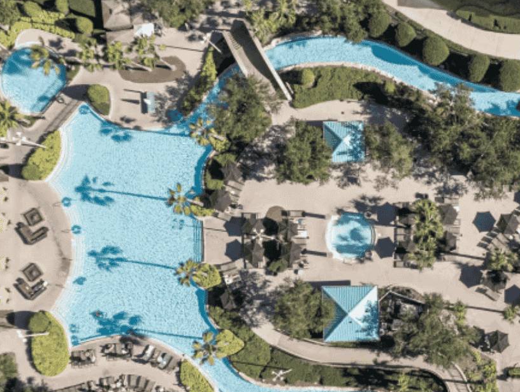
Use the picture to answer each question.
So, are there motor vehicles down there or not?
No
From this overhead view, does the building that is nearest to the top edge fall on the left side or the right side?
left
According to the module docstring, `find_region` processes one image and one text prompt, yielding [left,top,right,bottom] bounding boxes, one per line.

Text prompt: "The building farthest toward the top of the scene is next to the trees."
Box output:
[102,0,143,29]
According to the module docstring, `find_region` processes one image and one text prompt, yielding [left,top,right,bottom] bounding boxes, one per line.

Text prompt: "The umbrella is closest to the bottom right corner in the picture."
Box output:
[485,327,510,354]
